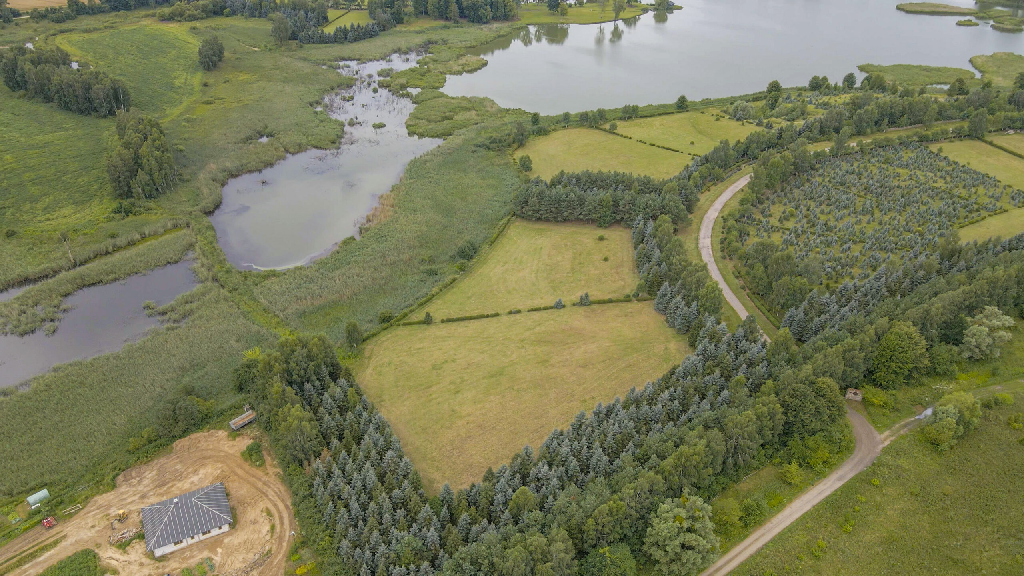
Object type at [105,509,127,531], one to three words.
work vehicle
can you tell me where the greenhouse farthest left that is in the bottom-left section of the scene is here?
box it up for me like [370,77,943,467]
[23,489,52,512]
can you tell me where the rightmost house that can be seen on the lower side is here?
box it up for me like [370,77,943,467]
[141,481,232,557]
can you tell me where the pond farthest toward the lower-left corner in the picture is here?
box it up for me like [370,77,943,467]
[0,257,200,384]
